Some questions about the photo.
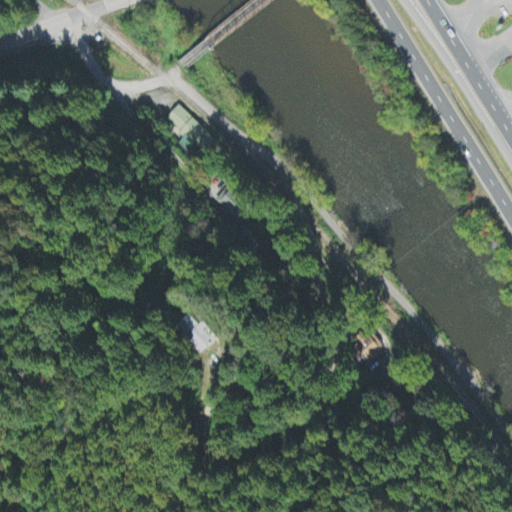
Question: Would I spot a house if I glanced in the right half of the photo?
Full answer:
Yes, a house appears in the right half of the photo.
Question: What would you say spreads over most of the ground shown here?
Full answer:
For the most part, this view shows trees.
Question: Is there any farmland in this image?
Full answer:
No, no farmland is visible.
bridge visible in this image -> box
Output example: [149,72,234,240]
[179,0,280,70]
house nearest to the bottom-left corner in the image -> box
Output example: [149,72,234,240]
[182,322,218,354]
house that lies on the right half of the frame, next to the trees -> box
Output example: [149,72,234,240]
[352,330,383,358]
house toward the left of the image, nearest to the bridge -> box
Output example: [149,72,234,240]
[166,102,198,136]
